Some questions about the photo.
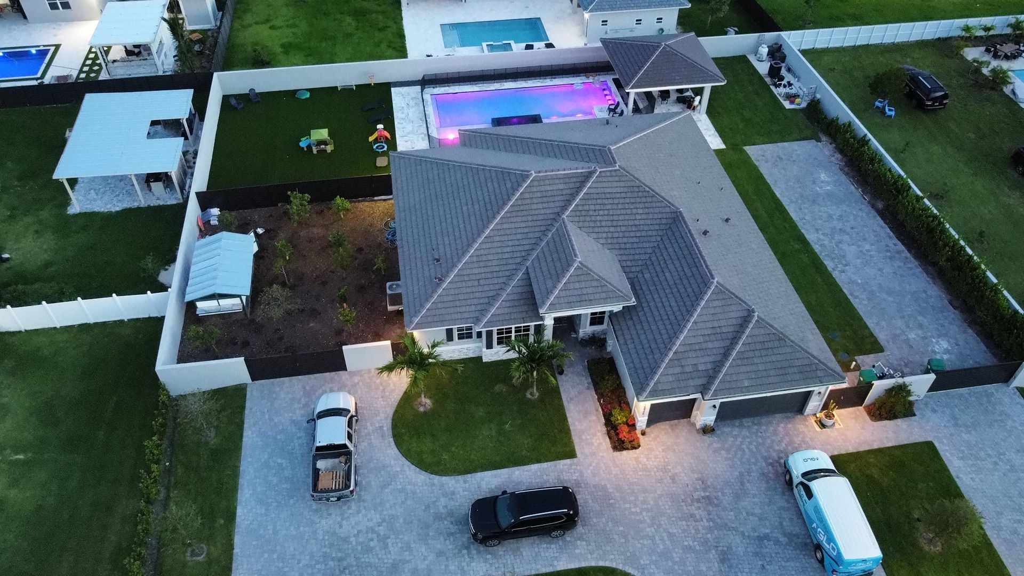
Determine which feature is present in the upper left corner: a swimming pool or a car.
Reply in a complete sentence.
It is a swimming pool that can be seen in the upper left corner.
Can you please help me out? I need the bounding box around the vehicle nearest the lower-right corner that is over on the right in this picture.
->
[786,451,880,576]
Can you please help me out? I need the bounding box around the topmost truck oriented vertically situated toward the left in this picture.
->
[306,393,360,511]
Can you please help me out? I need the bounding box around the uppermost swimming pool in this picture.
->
[440,18,548,53]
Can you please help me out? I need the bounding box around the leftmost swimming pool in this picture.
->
[0,41,64,86]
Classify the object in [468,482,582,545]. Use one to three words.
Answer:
car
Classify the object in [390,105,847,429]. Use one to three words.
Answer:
house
